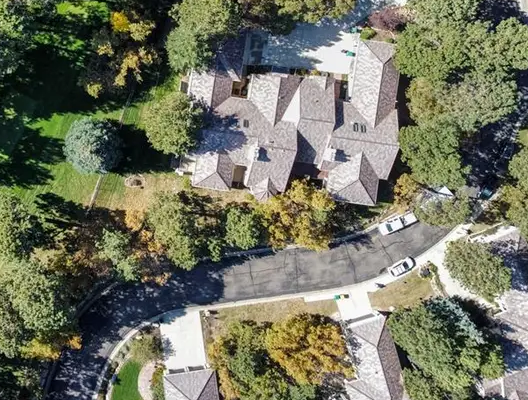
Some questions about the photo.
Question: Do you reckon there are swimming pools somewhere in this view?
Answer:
No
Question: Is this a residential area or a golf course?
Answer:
residential area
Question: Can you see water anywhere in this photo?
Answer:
No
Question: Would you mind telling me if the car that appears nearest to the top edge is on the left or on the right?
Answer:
right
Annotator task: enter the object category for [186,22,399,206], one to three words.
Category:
house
